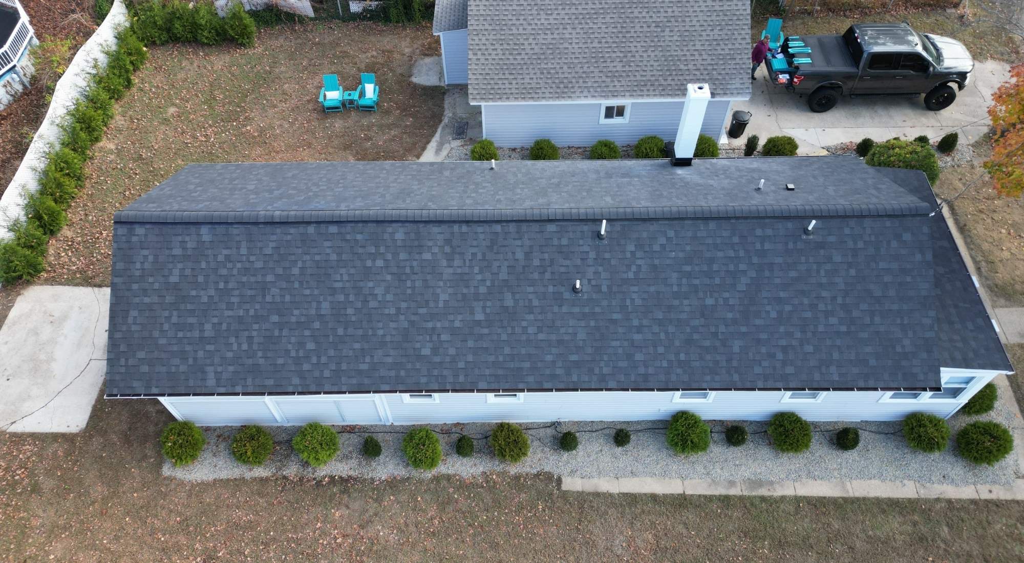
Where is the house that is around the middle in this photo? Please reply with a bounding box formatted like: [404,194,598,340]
[106,84,1014,427]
